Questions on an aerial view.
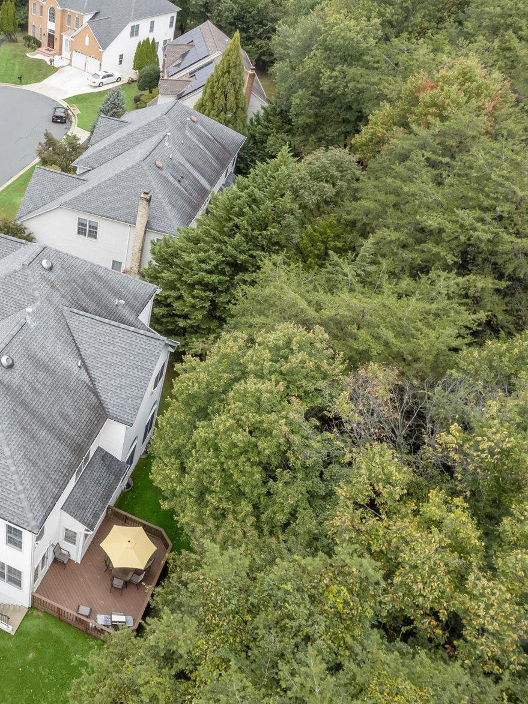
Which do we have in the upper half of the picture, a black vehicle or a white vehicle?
white vehicle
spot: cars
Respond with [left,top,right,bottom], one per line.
[51,103,70,121]
[88,69,124,85]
